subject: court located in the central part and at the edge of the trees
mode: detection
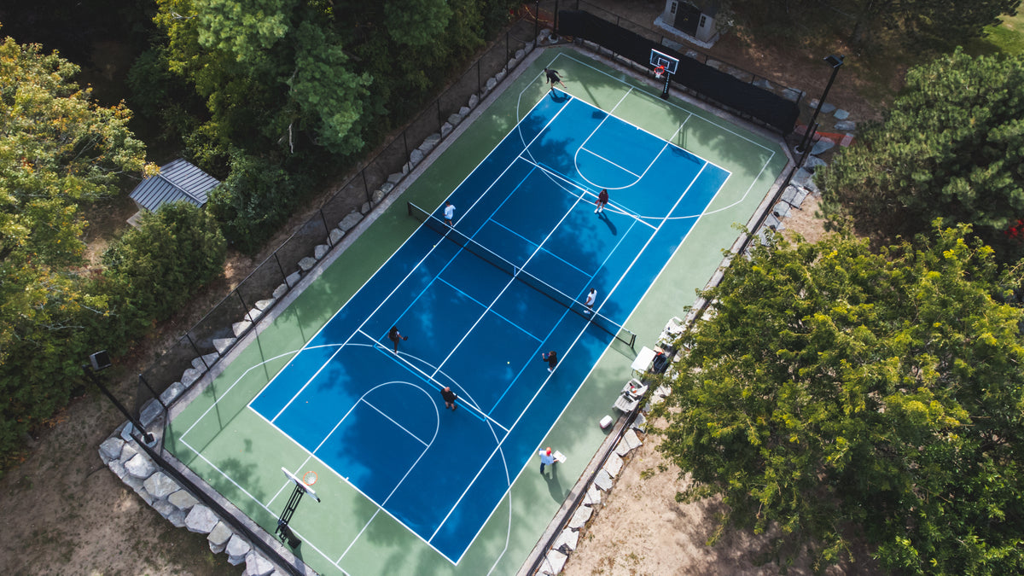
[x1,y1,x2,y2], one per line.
[158,48,793,576]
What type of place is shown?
sports ground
